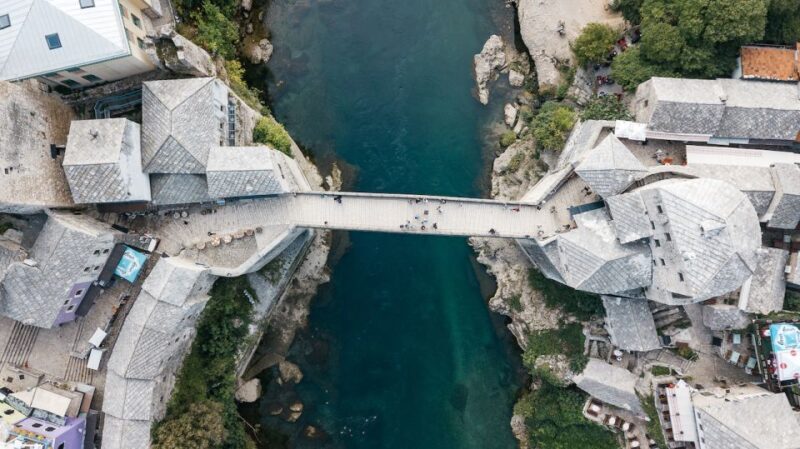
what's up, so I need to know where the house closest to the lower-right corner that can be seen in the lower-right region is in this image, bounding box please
[685,382,800,449]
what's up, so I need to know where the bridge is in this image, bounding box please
[293,192,539,238]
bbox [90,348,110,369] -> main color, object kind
white umbrella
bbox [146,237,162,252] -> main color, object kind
white umbrella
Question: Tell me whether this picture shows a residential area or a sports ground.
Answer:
residential area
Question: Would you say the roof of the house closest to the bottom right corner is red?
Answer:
No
